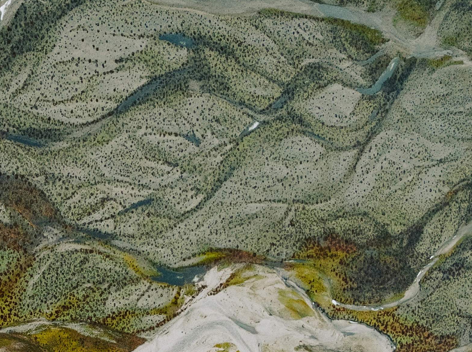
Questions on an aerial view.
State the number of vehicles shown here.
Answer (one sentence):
There are no vehicles in this view.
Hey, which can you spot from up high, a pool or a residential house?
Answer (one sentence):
This aerial view contains a pool.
